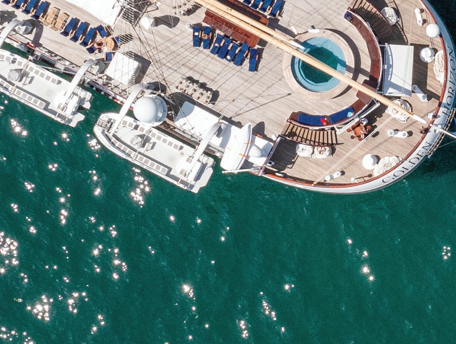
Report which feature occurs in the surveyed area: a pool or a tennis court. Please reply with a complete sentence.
Visible in the photo is a pool.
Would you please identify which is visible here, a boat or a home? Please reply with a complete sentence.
It is a boat that can be seen here.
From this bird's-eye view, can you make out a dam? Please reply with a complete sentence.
No, no dam is visible in the scene.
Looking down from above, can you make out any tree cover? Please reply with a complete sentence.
No, the scene doesn't show any tree cover.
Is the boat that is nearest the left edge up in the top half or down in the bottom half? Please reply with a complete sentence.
Seen from above, the boat that is nearest the left edge lies in the top half of the view.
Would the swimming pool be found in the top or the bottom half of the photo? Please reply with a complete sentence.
The swimming pool is in the top half of the image.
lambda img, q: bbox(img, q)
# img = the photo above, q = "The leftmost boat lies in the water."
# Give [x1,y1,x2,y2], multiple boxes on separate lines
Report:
[0,49,93,128]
